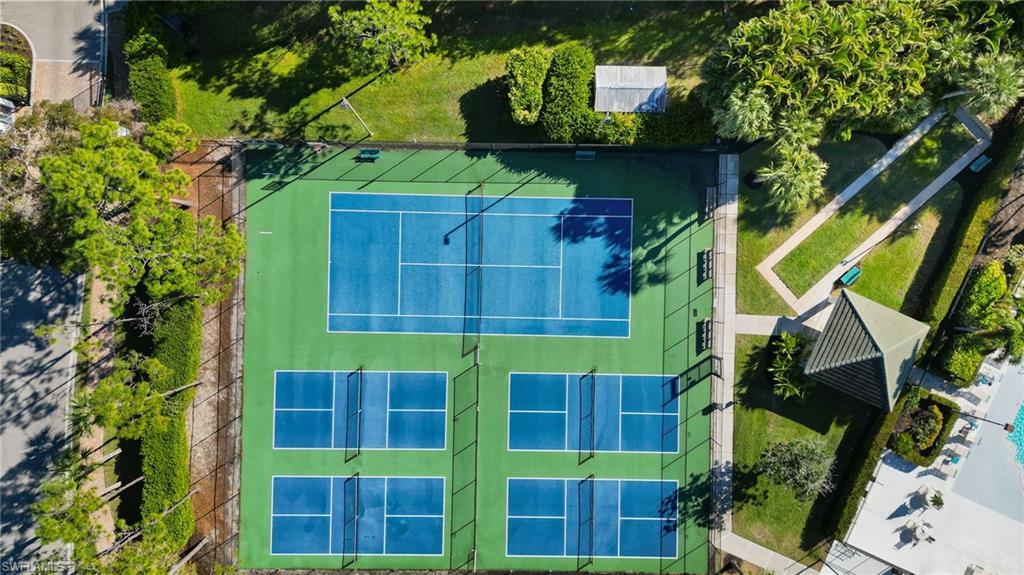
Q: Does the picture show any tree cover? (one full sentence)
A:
Yes, the picture does contain tree cover.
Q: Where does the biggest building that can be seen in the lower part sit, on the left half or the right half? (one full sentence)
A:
The biggest building that can be seen in the lower part appears in the right half of the scene.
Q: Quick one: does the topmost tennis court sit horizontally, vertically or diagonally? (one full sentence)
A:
The topmost tennis court is laid out horizontally.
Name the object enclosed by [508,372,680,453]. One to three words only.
sports court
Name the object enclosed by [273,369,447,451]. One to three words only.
sports court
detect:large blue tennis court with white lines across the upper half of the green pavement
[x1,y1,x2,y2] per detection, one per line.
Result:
[326,192,633,337]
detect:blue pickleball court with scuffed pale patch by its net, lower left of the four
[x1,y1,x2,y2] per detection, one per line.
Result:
[270,475,445,557]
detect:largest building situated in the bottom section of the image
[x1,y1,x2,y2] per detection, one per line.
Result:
[797,288,932,412]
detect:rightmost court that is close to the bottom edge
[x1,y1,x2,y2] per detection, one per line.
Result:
[506,478,679,559]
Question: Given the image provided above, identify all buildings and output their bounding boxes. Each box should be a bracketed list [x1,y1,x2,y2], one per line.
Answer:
[797,288,932,412]
[596,64,669,115]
